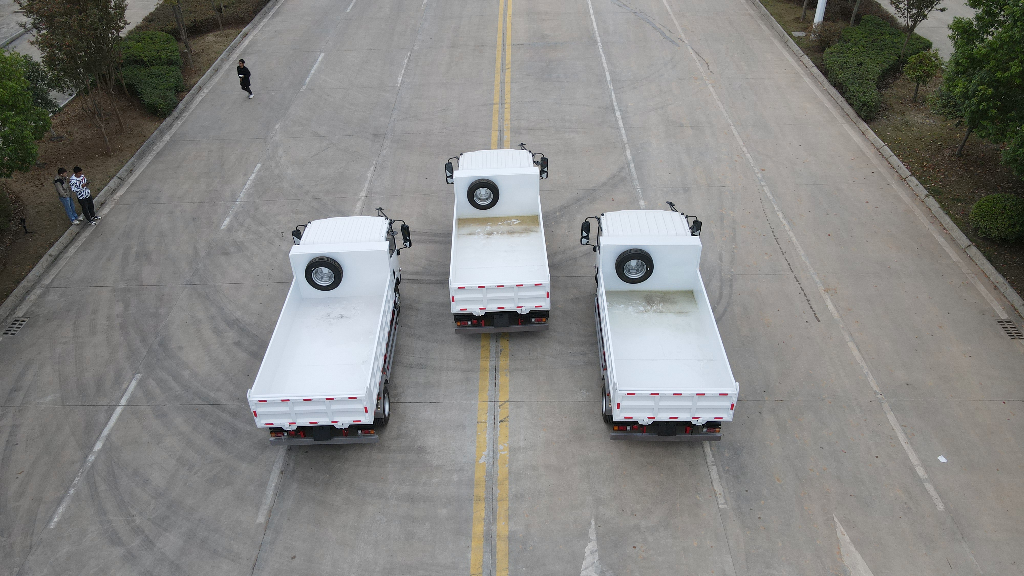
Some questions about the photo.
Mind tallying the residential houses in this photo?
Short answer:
0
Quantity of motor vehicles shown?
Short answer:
3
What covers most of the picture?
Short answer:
paved ground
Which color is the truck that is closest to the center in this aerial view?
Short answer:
white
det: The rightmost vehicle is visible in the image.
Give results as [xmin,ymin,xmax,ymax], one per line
[582,199,739,440]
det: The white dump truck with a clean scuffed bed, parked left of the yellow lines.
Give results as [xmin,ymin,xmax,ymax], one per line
[248,202,411,447]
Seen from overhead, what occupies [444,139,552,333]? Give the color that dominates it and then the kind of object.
white truck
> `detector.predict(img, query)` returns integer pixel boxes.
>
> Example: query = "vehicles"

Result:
[248,202,411,447]
[444,139,552,333]
[582,199,739,440]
